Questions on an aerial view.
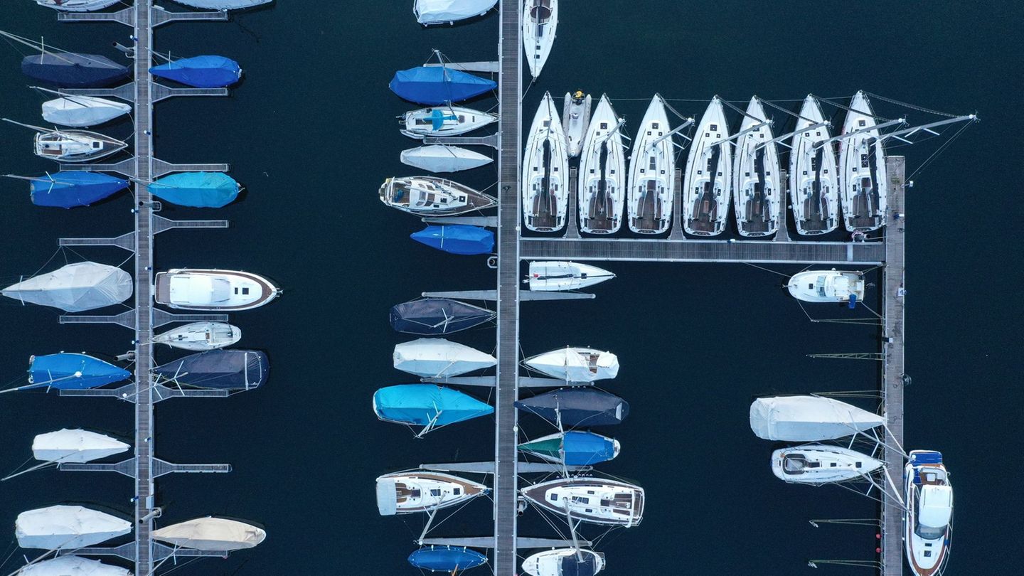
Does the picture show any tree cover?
No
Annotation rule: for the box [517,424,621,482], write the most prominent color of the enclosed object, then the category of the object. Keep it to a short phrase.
blue boat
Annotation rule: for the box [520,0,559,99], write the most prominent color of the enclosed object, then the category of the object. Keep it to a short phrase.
white boat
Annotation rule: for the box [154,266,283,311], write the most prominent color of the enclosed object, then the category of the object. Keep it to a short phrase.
white boat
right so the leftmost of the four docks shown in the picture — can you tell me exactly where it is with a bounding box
[56,0,230,576]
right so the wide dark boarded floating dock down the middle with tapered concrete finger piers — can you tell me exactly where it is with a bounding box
[416,0,598,576]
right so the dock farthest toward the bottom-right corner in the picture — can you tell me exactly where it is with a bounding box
[869,156,905,576]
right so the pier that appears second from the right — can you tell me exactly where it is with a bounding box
[520,167,885,264]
